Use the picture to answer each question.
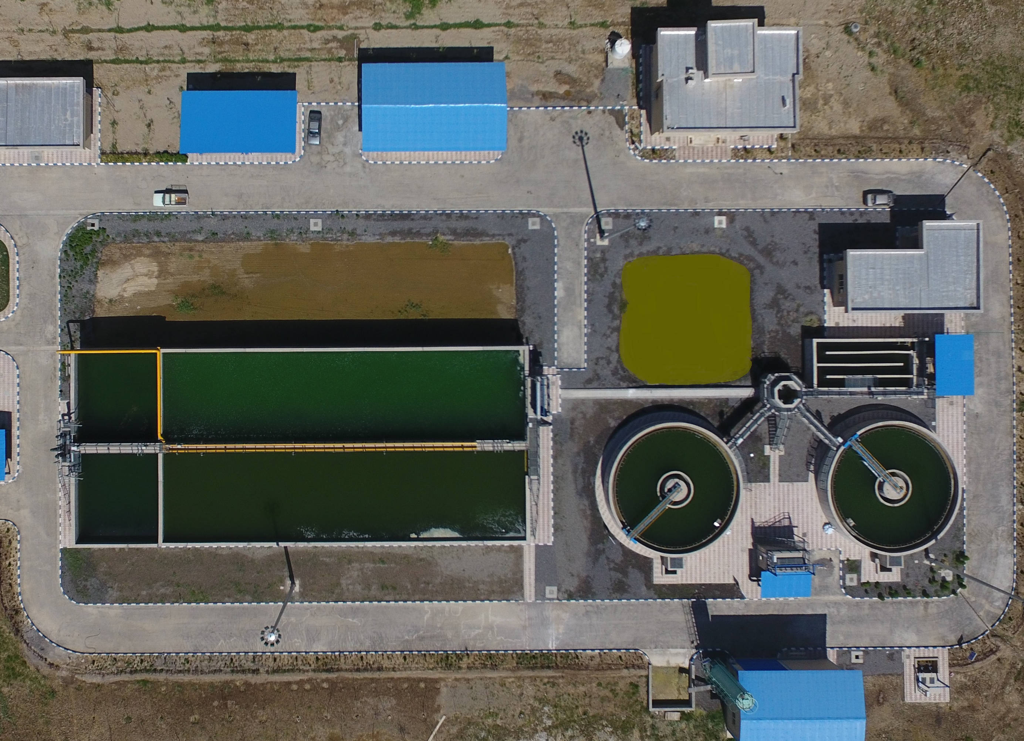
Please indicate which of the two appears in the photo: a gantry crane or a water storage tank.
water storage tank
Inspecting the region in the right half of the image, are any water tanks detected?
Yes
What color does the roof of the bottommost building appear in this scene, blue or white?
blue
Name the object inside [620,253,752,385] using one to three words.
pond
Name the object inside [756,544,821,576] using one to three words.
building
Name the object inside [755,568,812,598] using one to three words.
shed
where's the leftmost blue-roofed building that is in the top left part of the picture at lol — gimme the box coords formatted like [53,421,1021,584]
[179,91,299,155]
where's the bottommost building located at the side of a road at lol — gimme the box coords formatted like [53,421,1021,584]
[727,659,868,741]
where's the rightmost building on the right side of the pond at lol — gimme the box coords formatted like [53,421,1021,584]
[831,220,983,313]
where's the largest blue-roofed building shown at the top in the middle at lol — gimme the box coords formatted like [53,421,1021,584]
[362,62,507,153]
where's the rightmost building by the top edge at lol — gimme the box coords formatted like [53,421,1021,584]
[646,19,802,145]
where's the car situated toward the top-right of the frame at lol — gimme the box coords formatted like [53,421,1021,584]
[865,192,897,207]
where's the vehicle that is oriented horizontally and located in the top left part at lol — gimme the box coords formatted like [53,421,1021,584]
[153,191,190,208]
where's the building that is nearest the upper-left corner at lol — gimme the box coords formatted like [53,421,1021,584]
[0,77,94,155]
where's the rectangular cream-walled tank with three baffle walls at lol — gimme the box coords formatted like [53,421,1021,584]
[804,338,929,389]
